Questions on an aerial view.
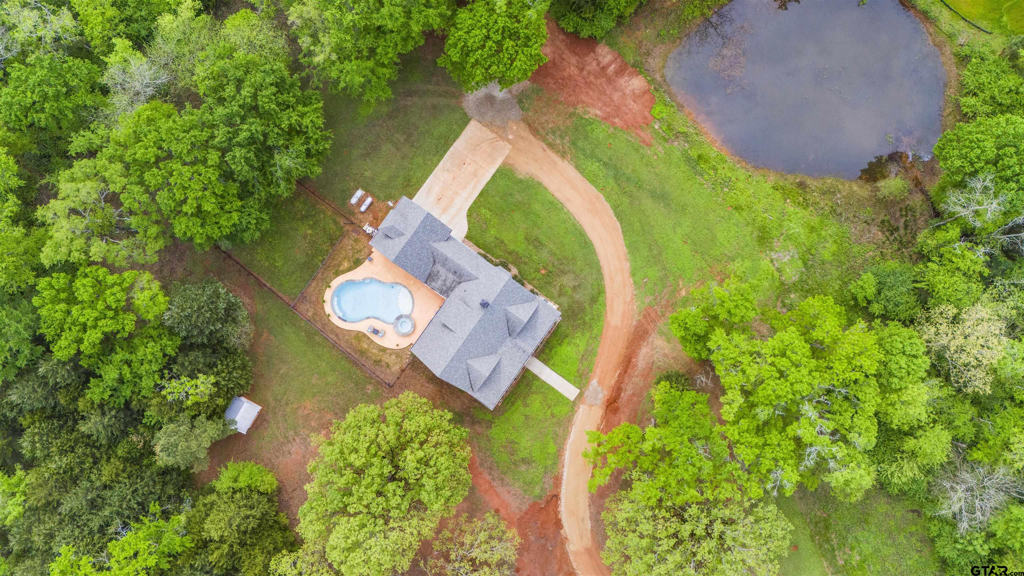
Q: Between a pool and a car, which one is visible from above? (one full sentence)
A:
This aerial view contains a pool.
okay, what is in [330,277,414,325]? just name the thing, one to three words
swimming pool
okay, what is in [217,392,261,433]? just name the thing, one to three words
shed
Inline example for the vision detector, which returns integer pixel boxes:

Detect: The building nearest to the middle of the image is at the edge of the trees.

[368,195,563,410]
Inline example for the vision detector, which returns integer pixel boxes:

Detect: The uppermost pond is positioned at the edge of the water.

[669,0,940,179]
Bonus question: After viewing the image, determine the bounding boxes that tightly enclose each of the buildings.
[217,392,261,433]
[368,195,563,410]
